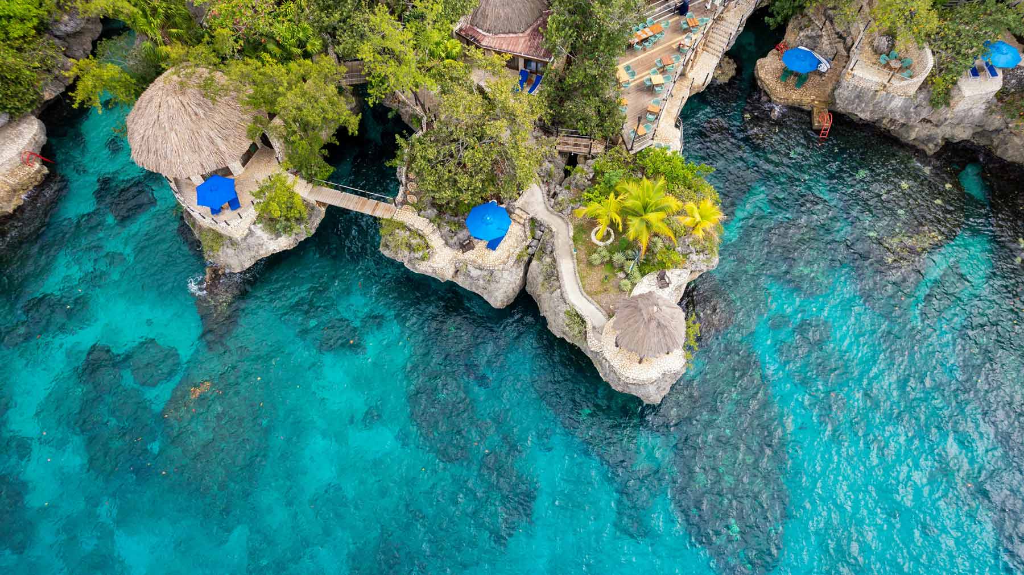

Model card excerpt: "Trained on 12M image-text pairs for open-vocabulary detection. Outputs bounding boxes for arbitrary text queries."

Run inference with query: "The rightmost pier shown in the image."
[806,106,829,142]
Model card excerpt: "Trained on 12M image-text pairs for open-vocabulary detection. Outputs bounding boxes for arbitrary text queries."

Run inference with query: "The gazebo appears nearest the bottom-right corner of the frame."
[612,292,686,366]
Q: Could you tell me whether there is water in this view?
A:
Yes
